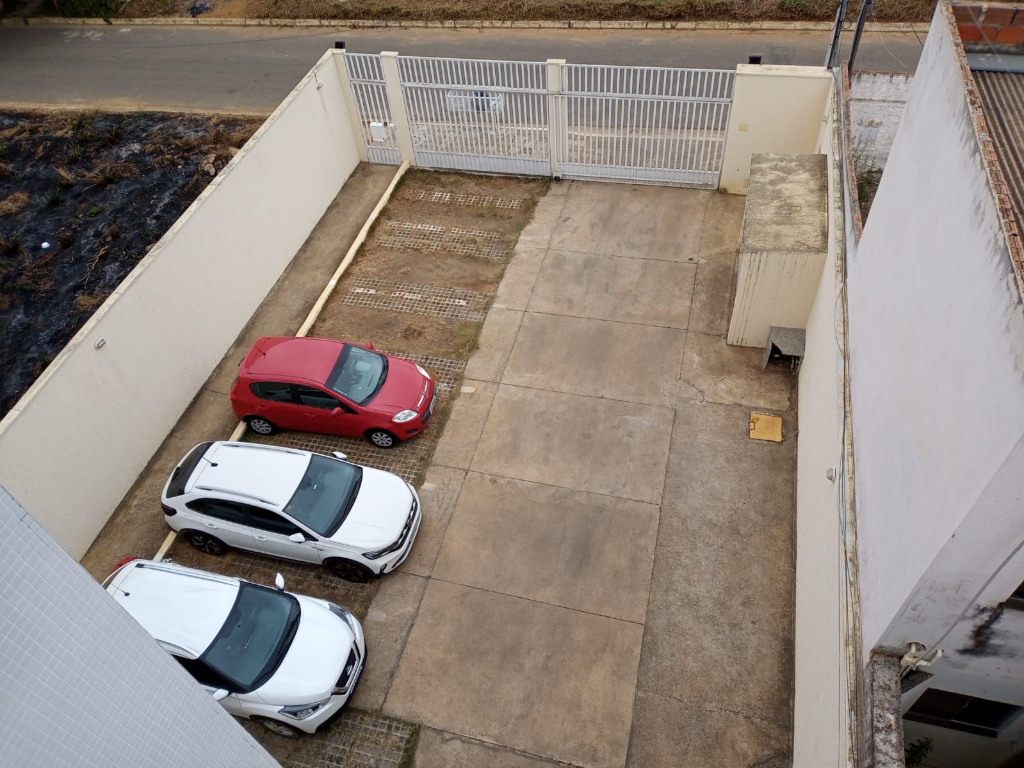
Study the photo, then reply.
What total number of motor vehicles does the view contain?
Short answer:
3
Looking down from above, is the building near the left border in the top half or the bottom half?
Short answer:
bottom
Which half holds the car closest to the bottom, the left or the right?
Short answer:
left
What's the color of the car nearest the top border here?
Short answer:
red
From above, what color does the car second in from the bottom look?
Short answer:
white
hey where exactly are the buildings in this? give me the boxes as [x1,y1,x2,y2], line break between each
[727,152,826,351]
[846,6,1024,768]
[0,484,280,768]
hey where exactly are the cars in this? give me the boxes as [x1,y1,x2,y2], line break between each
[160,439,420,582]
[225,333,440,447]
[103,558,369,740]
